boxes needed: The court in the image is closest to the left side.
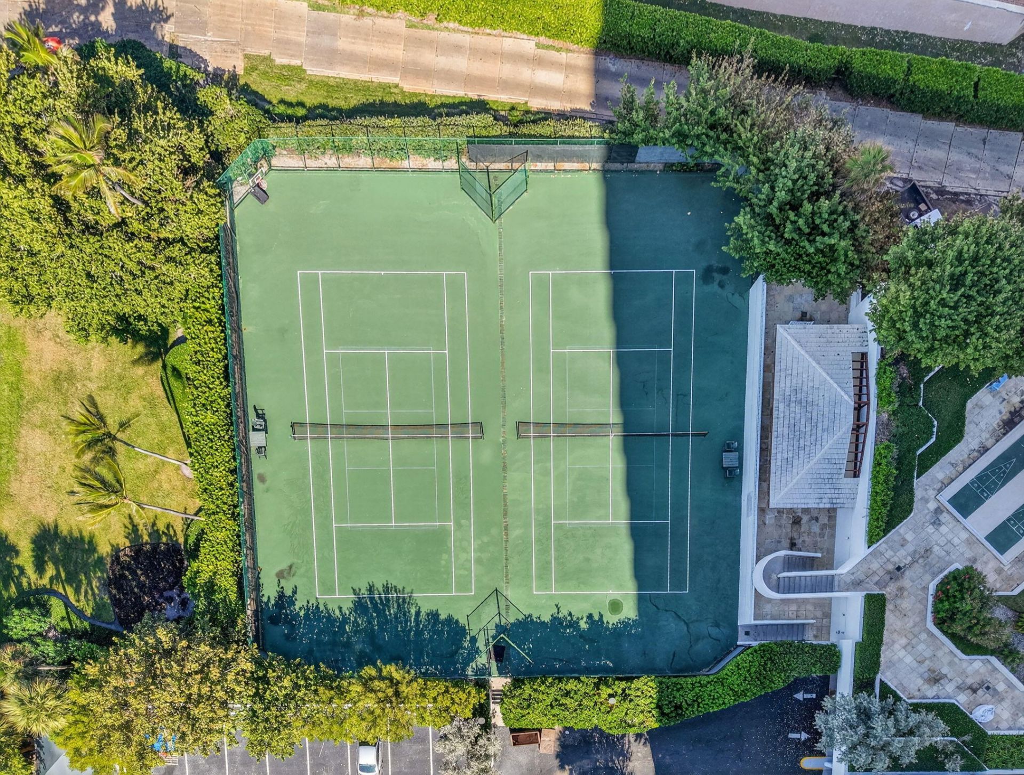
[234,170,510,683]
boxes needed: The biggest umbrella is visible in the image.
[971,704,1000,724]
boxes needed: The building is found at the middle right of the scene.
[768,323,872,510]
